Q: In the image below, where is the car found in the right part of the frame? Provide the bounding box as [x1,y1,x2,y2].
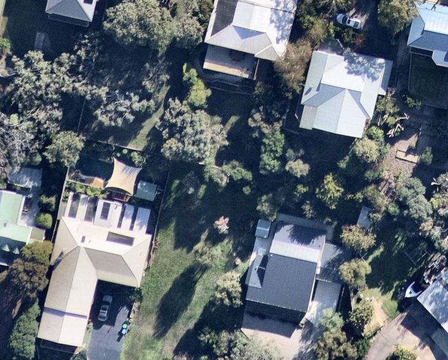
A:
[335,12,363,29]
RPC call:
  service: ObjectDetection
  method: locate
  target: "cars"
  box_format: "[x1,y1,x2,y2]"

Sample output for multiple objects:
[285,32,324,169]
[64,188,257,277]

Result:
[98,294,113,322]
[335,12,363,29]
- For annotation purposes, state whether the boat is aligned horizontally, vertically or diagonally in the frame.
diagonally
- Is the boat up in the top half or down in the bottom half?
bottom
